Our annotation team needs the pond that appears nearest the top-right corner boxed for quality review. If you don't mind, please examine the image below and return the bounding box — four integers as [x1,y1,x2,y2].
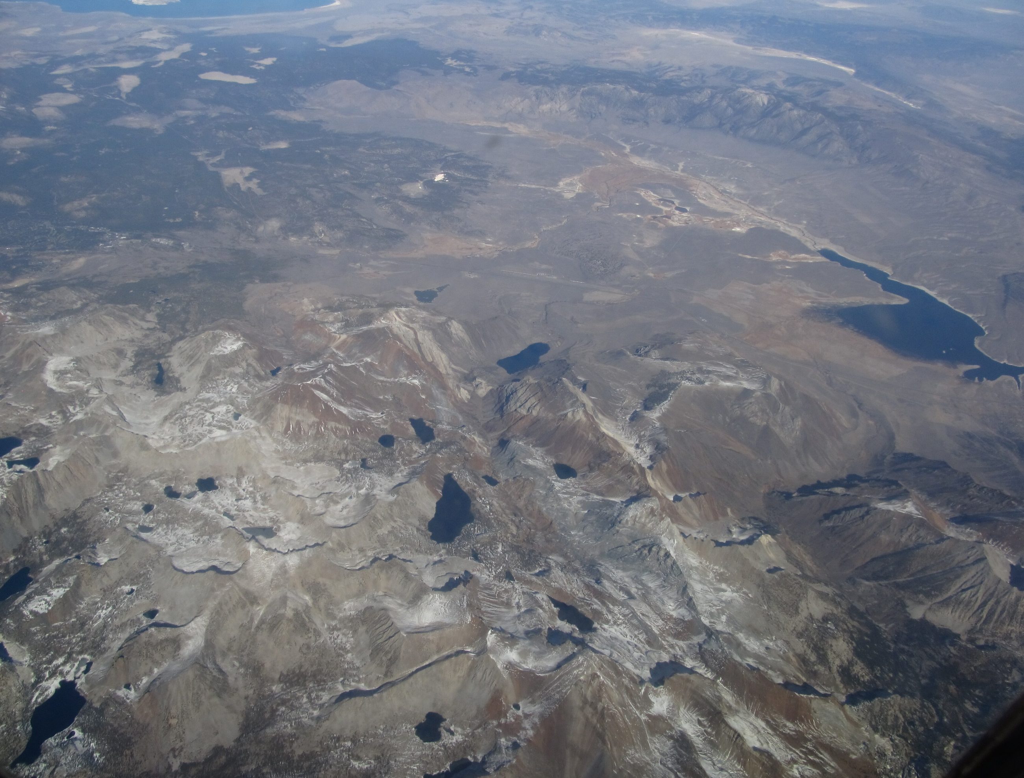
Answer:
[817,248,1024,389]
